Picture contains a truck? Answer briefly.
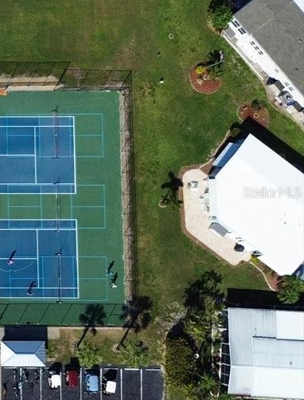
No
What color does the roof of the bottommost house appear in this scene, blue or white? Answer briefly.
white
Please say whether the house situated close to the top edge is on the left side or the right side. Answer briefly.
right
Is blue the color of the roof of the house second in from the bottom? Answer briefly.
No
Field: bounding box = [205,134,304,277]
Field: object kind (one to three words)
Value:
house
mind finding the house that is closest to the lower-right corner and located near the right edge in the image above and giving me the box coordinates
[211,308,304,399]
